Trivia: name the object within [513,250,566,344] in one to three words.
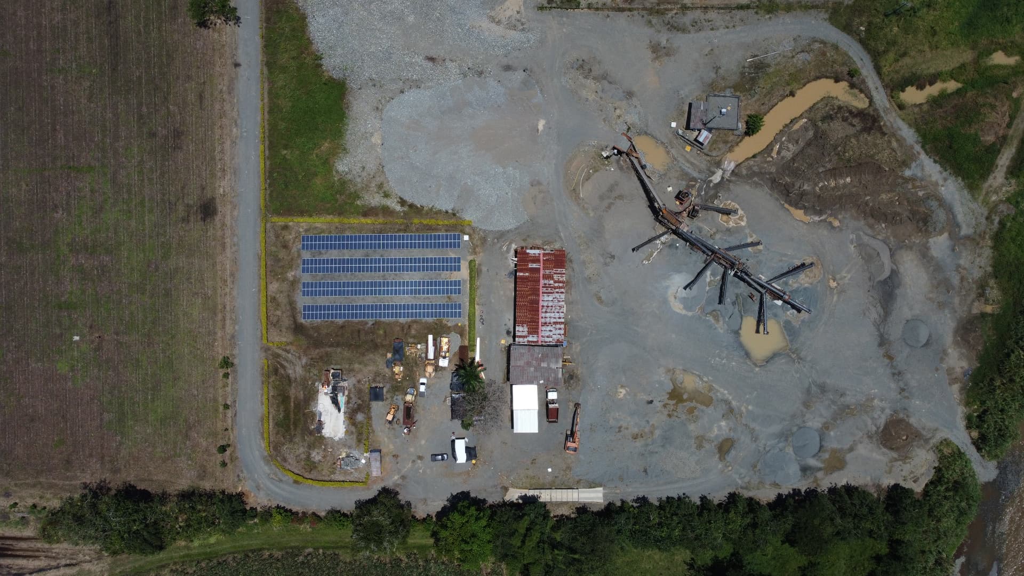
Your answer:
shed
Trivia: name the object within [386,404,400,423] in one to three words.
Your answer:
work vehicle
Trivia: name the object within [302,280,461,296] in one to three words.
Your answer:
solar array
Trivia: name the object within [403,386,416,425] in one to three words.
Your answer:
vehicle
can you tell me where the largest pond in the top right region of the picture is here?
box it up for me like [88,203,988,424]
[723,79,868,165]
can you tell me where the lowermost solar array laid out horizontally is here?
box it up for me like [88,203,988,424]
[303,304,462,319]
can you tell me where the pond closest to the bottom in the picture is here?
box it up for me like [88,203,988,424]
[739,317,789,364]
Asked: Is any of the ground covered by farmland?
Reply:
Yes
